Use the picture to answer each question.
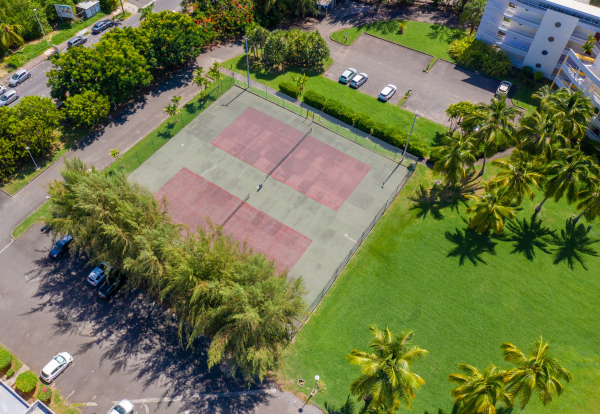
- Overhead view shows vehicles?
Yes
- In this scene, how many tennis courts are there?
2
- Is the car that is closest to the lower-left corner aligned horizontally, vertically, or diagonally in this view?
diagonally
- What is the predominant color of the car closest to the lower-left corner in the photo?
white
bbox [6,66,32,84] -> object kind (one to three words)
car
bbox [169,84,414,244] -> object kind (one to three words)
tennis court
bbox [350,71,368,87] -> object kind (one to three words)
car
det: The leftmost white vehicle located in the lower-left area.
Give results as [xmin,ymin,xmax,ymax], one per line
[36,347,74,382]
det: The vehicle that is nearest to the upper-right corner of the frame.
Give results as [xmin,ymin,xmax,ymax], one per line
[496,80,513,95]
